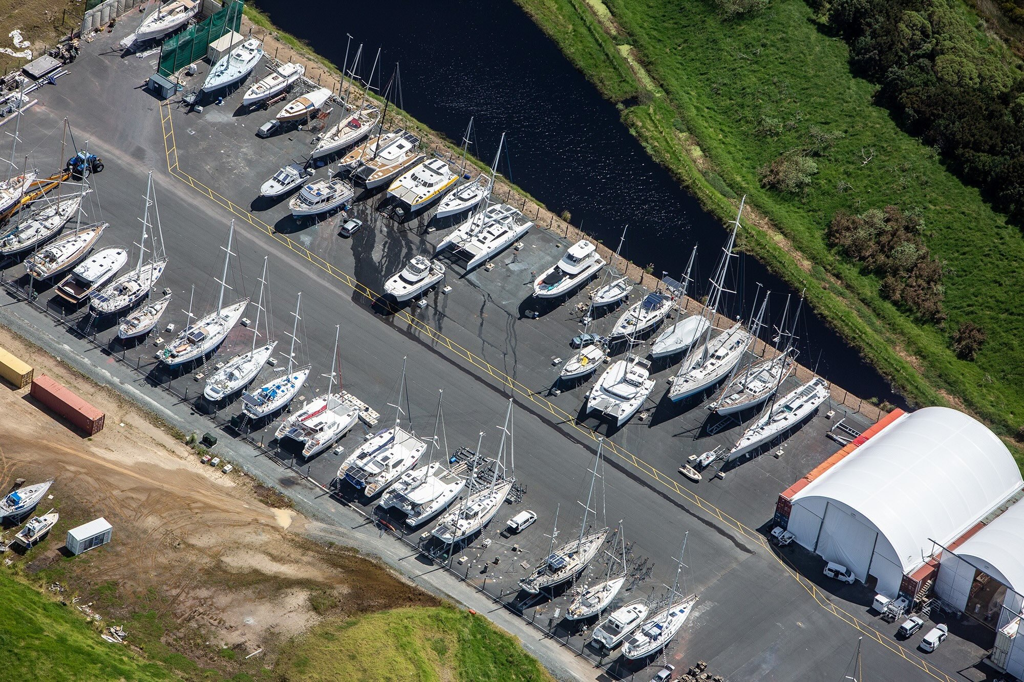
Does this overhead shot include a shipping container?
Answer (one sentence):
Yes, the photo shows a shipping container.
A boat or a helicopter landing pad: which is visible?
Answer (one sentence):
Of the two, only a boat appears.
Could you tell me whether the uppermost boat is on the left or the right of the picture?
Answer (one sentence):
It is on the left.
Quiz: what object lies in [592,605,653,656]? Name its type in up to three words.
boat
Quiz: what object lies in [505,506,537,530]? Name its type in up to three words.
vehicle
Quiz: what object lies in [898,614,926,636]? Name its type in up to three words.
car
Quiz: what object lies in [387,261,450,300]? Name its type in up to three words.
boat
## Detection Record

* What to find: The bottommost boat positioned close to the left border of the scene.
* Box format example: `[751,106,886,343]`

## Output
[17,514,62,550]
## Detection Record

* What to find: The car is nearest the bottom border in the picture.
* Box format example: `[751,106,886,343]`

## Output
[651,657,672,682]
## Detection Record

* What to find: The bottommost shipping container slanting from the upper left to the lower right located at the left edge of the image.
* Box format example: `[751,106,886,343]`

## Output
[30,374,105,434]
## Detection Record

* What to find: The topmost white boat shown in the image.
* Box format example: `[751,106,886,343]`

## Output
[134,0,212,38]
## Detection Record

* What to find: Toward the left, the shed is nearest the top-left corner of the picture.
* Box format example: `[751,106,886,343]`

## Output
[150,76,177,101]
